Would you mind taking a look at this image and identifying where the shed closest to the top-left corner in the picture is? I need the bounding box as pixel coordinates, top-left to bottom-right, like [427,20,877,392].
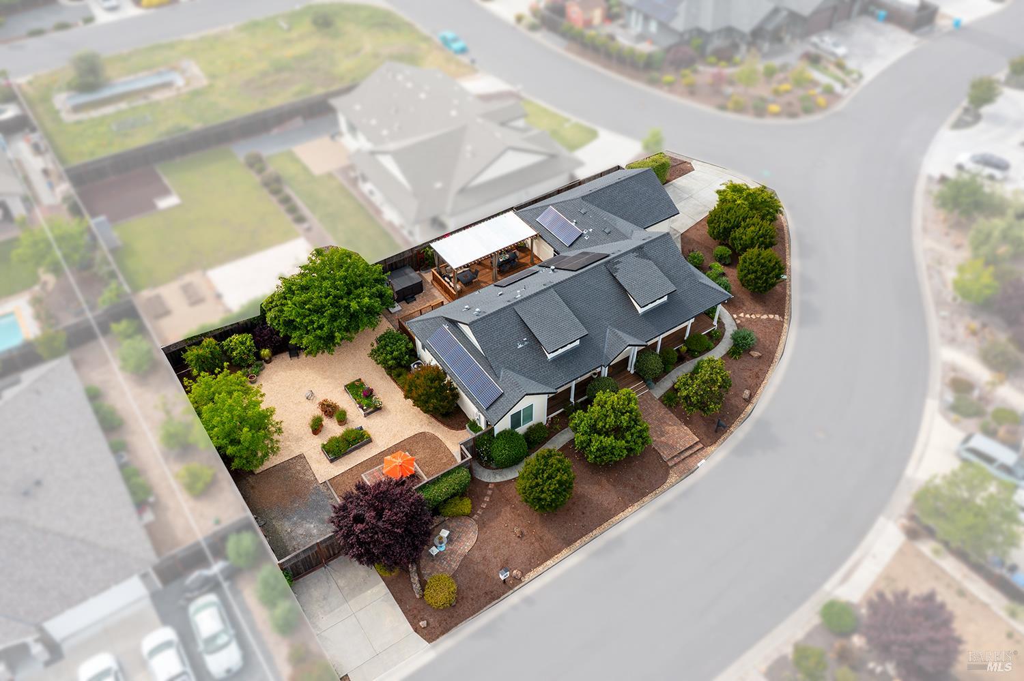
[88,219,127,263]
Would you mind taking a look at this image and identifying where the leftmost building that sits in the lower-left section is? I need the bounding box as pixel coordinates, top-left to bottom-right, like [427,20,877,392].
[0,358,162,677]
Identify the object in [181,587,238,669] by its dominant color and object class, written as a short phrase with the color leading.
white car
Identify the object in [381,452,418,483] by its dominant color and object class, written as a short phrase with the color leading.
orange umbrella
